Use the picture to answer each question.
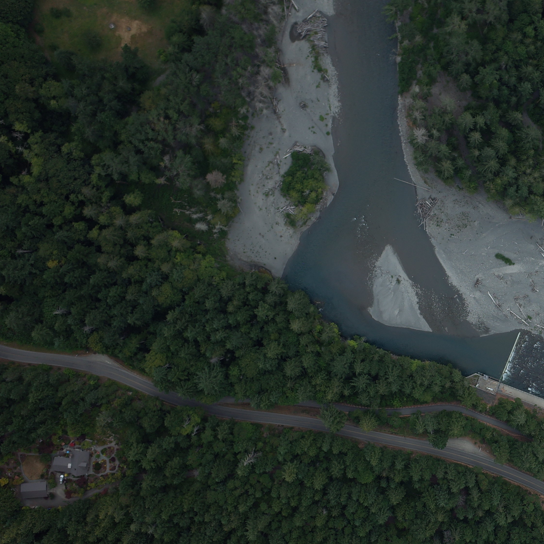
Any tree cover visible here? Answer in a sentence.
Yes, some tree cover is visible.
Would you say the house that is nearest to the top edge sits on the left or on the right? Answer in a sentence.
You can find the house that is nearest to the top edge on the left side of the picture.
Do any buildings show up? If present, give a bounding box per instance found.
[51,447,91,476]
[19,481,49,498]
